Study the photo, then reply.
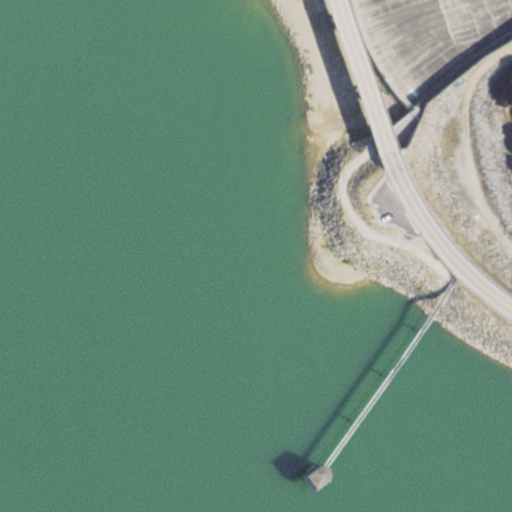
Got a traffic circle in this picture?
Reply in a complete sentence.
No, there's no traffic circle here.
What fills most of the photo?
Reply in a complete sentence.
For the most part, this view shows water.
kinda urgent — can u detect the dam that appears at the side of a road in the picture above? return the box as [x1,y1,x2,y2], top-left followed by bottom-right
[317,0,512,170]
